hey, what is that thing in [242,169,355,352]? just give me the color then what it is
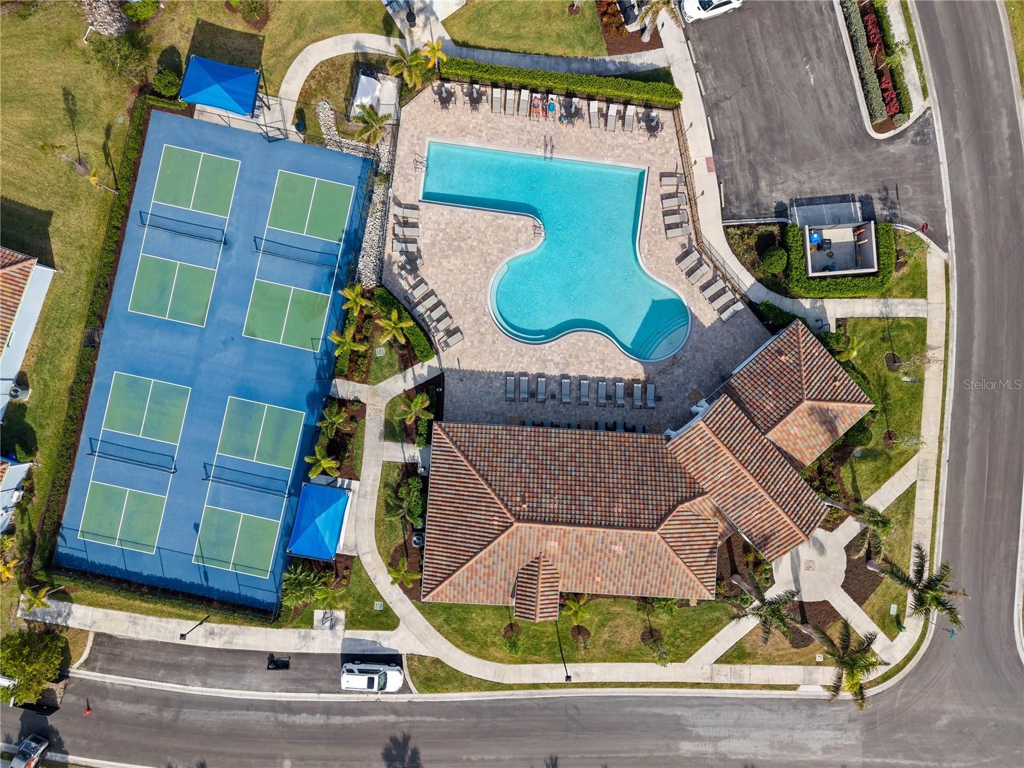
green sports court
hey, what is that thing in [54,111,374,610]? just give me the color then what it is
blue sports court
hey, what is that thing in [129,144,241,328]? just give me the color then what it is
green sports court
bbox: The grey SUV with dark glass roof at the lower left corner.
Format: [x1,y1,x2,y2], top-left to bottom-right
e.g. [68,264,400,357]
[8,726,57,768]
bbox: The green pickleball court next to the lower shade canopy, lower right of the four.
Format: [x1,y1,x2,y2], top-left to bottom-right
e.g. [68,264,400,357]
[192,396,305,579]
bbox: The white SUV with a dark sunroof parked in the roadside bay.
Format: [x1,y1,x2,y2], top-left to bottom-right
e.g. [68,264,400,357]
[340,659,405,695]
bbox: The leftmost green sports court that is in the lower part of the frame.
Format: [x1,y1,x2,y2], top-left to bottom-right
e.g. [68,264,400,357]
[77,371,191,554]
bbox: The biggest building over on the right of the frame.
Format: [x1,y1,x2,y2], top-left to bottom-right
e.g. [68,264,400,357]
[419,318,876,622]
